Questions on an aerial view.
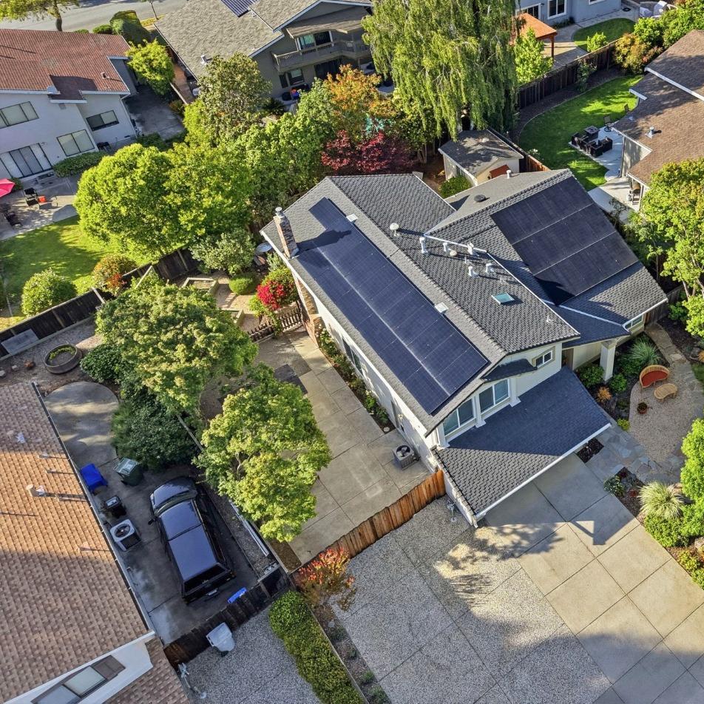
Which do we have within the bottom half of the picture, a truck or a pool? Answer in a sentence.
What appears within the bottom half of the picture is a truck.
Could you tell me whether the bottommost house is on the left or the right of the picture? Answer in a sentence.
You can find the bottommost house on the left side of the picture.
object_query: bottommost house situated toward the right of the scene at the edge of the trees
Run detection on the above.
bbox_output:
[260,165,671,527]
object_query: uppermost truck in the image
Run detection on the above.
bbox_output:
[133,478,232,601]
